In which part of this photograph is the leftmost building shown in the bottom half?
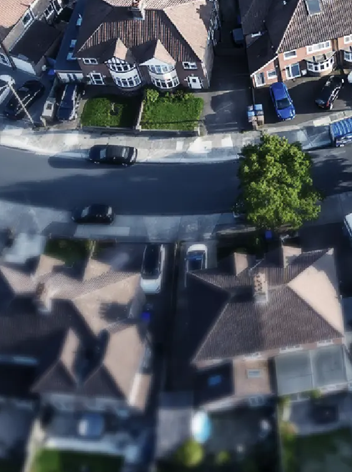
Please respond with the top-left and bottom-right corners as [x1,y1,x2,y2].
[0,253,150,427]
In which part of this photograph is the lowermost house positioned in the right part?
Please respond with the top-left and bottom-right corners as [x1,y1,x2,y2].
[185,244,352,413]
